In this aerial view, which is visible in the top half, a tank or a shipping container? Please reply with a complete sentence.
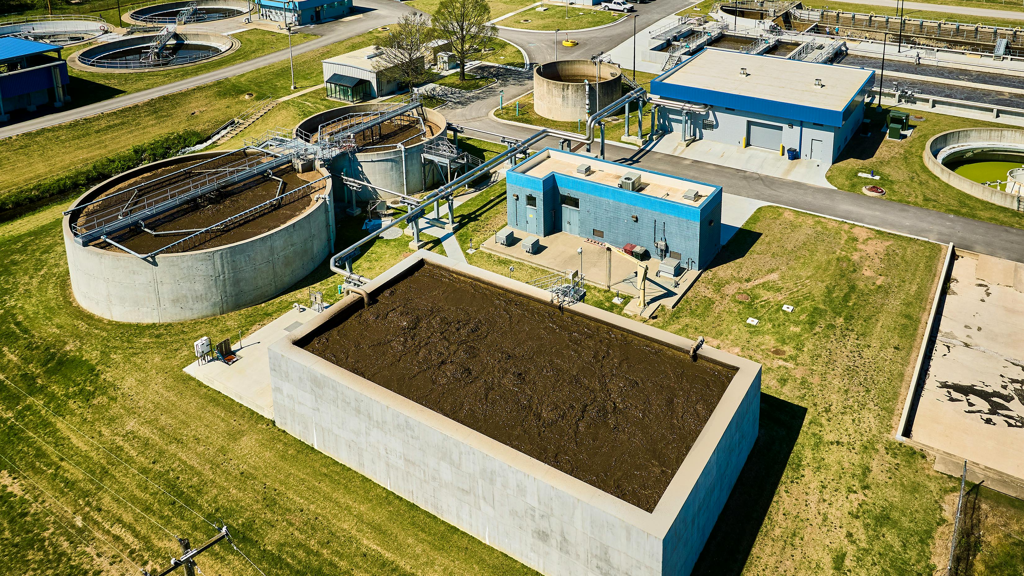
Looking in the top half, you will find a tank.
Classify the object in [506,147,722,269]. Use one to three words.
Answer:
building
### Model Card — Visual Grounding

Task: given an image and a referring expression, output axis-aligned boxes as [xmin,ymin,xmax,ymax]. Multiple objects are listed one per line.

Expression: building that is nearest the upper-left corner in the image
[0,37,64,120]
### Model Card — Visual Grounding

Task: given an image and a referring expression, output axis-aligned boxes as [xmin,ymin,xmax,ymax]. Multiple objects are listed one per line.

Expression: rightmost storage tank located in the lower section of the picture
[268,249,762,576]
